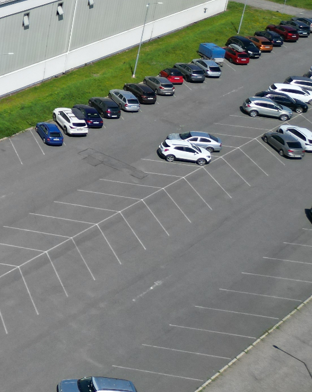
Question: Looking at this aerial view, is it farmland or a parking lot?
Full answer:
The picture captures a parking lot.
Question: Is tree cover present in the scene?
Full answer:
No, there's no tree cover in this view.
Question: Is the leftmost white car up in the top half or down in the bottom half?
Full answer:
Seen from above, the leftmost white car lies in the top half of the view.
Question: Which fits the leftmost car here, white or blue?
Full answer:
The leftmost car is blue.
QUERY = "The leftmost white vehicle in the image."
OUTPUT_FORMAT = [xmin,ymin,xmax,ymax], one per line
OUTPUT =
[56,105,87,133]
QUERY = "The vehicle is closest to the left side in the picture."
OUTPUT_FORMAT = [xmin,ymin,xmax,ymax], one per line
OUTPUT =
[31,117,60,142]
